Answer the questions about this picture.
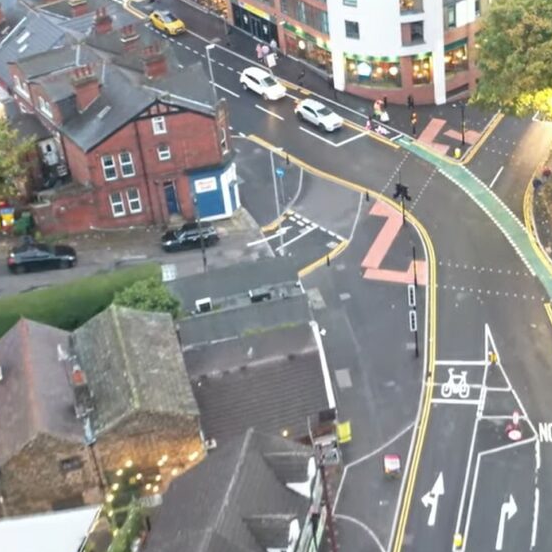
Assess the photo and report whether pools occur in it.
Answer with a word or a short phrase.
No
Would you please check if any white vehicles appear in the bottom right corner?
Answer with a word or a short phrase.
No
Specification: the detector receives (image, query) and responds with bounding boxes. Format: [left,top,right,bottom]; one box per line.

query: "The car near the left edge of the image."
[3,240,75,272]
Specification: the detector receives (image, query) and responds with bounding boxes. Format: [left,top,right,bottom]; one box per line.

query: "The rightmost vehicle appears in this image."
[290,92,344,128]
